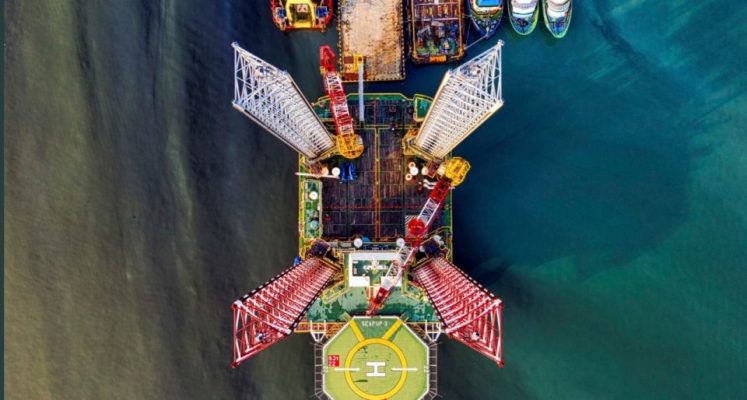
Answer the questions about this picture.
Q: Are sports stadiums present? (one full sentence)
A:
No, no sports stadium is visible in the scene.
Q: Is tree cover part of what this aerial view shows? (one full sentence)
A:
No, the scene doesn't show any tree cover.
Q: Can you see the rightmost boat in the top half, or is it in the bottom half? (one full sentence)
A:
The rightmost boat sits in the top half of the picture.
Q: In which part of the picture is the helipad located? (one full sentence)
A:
The helipad sits in the bottom section of the image.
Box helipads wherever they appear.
[311,307,444,400]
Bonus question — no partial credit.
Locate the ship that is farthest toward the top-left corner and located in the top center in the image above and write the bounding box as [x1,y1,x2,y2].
[269,0,332,31]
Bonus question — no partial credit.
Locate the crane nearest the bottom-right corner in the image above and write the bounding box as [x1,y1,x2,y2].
[371,155,473,306]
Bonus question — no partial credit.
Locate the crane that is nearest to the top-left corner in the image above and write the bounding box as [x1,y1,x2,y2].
[314,42,365,161]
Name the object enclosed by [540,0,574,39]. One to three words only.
boat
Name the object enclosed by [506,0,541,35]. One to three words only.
boat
